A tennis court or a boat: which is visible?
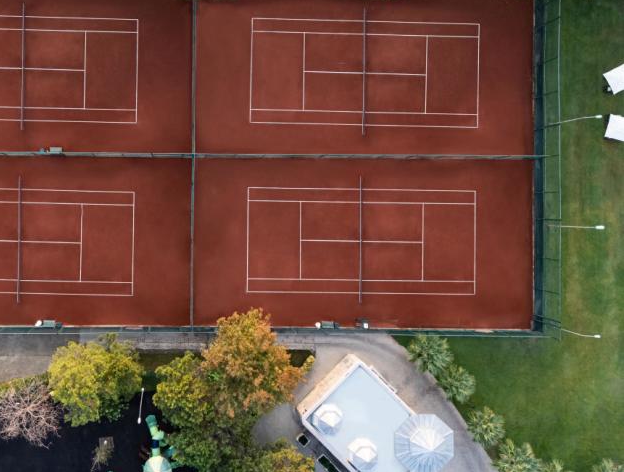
tennis court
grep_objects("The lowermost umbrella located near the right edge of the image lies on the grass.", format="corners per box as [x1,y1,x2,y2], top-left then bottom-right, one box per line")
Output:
[599,113,624,143]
